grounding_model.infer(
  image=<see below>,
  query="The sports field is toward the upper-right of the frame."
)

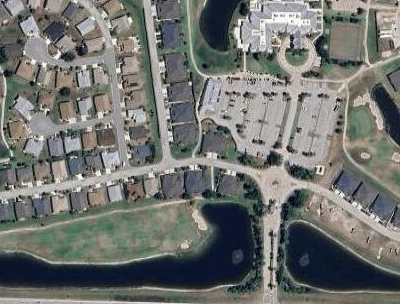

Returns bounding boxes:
[330,22,364,59]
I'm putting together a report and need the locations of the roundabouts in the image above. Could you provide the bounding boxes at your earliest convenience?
[254,163,300,206]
